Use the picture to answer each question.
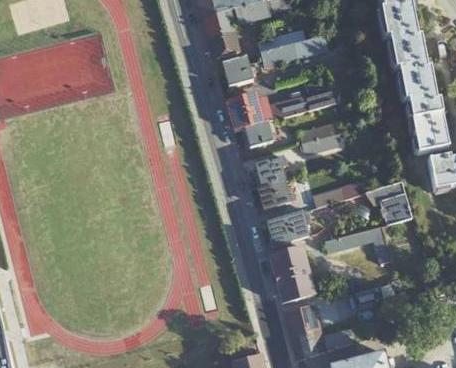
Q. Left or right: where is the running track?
left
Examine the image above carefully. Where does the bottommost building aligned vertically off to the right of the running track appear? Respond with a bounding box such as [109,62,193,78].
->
[298,304,322,350]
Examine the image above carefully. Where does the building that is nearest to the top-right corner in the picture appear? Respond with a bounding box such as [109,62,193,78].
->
[380,0,451,156]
